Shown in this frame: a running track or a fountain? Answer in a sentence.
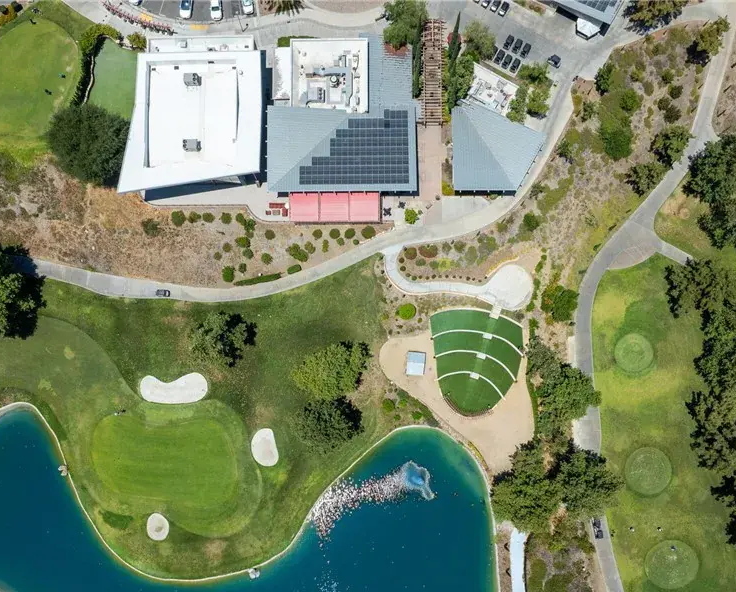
Visible in the photo is a fountain.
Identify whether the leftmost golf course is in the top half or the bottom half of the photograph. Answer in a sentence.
Seen from above, the leftmost golf course lies in the bottom half of the view.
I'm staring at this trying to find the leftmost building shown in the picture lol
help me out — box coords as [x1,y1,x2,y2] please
[118,35,266,201]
